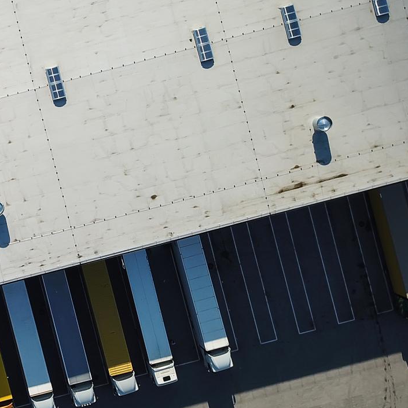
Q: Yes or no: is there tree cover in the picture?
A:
No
